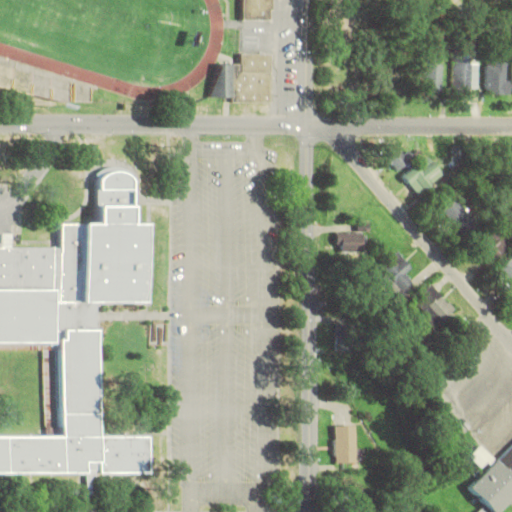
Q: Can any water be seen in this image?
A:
No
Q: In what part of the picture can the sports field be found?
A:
top left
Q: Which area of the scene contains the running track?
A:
top left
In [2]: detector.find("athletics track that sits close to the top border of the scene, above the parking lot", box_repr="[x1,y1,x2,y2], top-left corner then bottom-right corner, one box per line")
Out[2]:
[0,0,224,99]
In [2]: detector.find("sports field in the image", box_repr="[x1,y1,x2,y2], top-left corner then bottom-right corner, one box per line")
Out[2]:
[0,0,210,86]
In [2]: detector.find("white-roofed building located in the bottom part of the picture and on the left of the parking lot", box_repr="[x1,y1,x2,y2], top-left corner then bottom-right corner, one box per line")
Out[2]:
[0,166,154,478]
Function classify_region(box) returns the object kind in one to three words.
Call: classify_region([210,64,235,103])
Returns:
building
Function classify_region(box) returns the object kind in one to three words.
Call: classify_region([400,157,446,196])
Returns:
house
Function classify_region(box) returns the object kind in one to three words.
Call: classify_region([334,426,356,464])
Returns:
house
